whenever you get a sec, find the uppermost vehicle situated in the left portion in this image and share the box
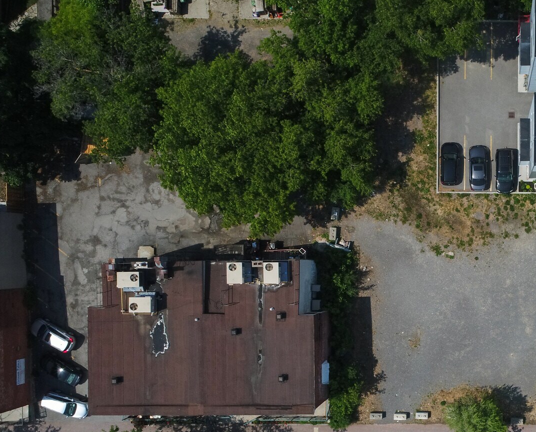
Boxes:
[32,318,80,355]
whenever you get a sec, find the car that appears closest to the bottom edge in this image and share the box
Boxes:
[39,390,86,419]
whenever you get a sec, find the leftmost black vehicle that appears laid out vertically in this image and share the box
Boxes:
[439,142,462,188]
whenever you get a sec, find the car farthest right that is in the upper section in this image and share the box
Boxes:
[494,146,518,193]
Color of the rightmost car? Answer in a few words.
black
